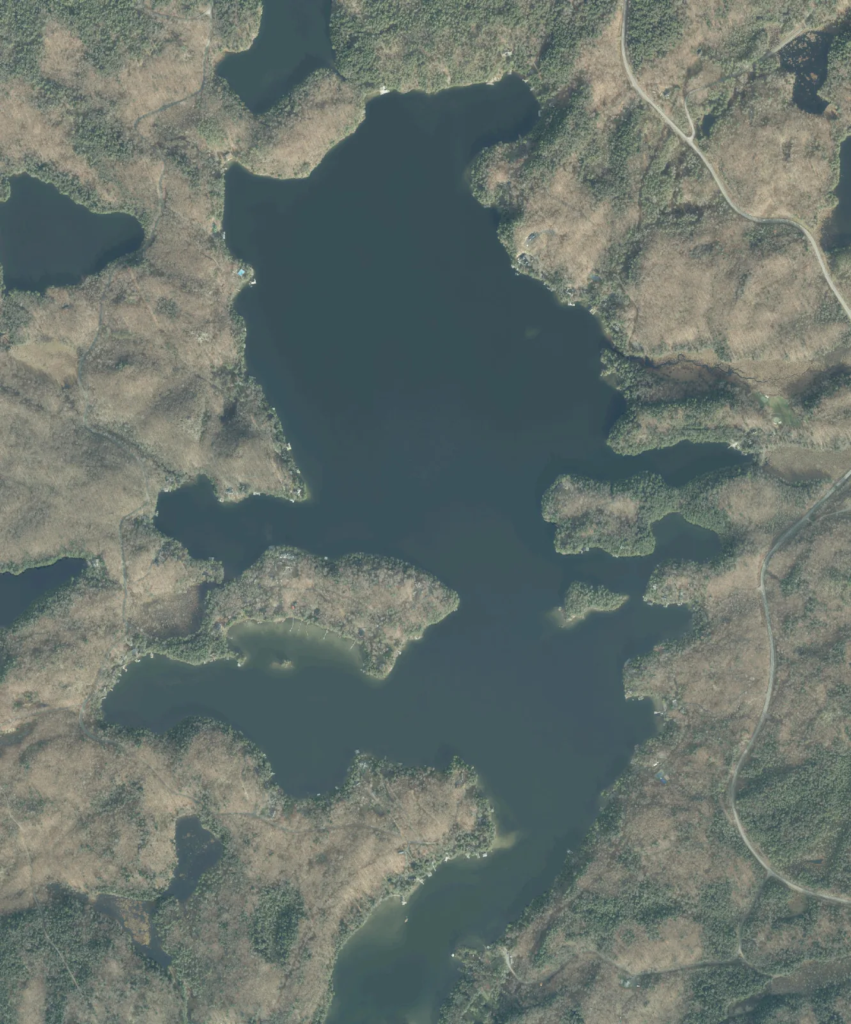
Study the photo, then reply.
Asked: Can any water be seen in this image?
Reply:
Yes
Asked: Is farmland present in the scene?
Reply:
No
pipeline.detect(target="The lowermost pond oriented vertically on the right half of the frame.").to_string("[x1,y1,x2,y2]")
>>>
[823,137,851,251]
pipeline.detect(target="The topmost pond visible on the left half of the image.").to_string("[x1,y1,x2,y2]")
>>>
[217,0,337,114]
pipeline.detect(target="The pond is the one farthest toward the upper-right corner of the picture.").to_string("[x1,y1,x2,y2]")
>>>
[780,30,833,113]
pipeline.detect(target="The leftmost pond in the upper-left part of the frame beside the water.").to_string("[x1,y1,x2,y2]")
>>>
[0,173,142,291]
